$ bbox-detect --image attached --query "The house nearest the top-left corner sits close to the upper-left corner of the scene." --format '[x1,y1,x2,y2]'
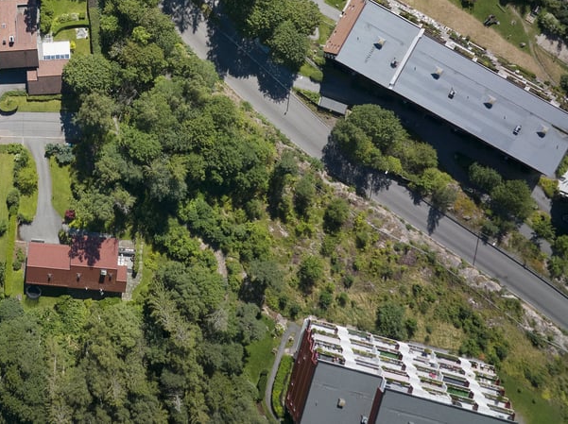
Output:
[0,0,39,69]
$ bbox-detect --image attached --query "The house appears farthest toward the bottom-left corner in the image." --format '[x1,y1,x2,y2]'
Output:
[25,231,127,292]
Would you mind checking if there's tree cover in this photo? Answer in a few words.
Yes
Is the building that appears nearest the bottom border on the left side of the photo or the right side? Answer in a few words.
right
